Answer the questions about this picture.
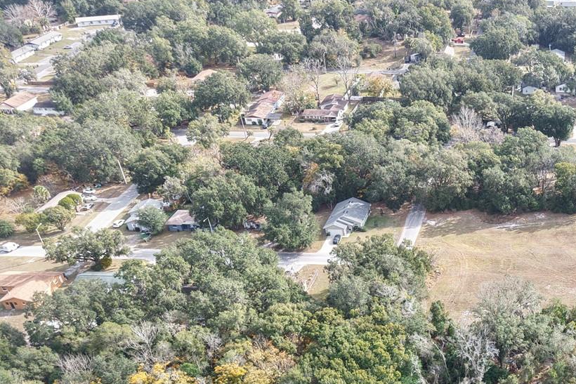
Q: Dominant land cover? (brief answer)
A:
trees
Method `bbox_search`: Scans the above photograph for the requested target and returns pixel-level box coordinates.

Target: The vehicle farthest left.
[0,241,22,253]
